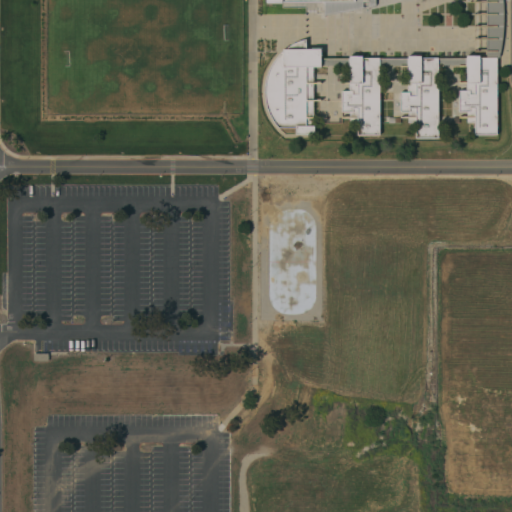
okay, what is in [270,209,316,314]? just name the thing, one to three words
sports court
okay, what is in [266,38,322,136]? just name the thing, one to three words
building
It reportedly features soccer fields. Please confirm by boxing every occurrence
[48,0,243,113]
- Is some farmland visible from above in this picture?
Yes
